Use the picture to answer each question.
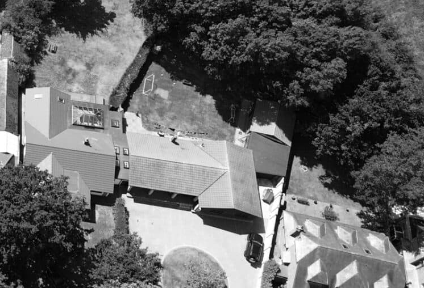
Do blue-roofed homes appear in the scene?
No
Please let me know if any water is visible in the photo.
No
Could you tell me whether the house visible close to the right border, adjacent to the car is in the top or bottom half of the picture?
bottom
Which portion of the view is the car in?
bottom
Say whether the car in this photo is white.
No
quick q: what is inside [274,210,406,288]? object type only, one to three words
house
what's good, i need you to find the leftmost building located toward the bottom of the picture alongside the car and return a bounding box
[124,131,262,221]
